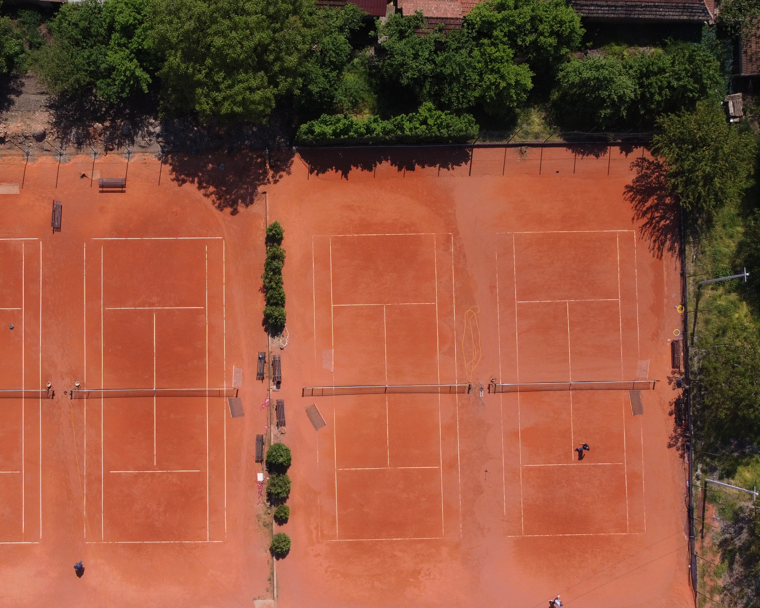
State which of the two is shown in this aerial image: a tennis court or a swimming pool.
tennis court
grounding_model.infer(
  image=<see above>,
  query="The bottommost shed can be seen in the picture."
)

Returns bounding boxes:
[714,89,743,121]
